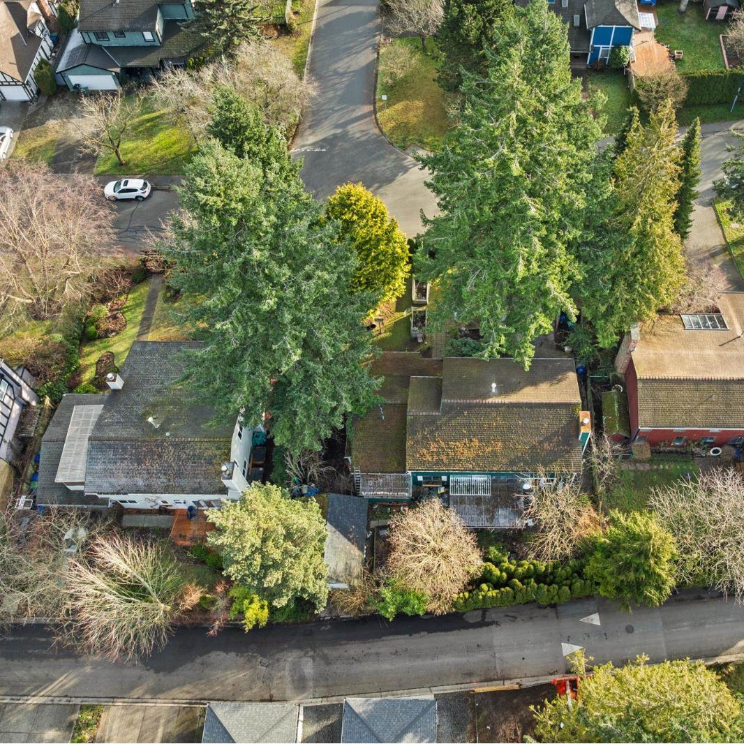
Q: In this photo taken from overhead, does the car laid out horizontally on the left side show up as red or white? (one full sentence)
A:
The color of the car laid out horizontally on the left side is white.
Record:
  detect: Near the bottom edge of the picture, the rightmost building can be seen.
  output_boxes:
[339,697,436,744]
